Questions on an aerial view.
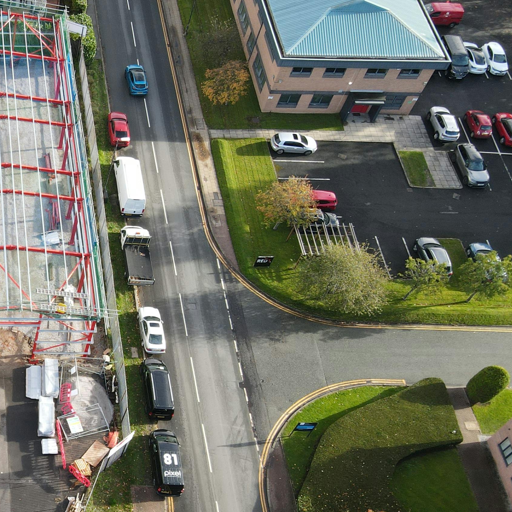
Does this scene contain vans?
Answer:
Yes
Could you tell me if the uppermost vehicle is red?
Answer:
Yes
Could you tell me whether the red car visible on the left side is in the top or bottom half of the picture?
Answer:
top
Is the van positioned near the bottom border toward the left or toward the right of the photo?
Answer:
left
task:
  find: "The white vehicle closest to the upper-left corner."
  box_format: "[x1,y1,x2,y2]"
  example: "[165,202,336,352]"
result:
[114,165,149,225]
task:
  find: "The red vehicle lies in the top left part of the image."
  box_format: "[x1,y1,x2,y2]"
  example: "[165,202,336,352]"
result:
[106,113,131,150]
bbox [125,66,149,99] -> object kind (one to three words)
car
